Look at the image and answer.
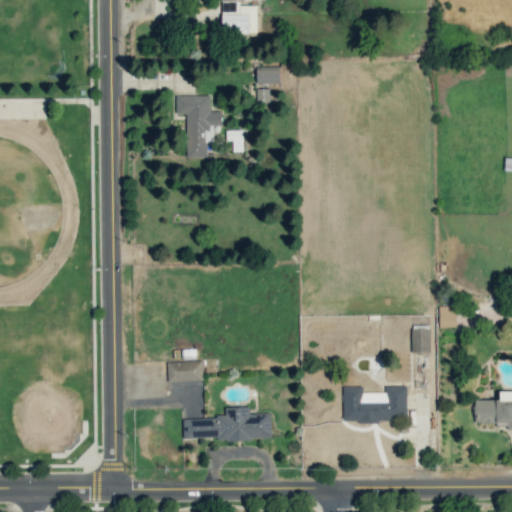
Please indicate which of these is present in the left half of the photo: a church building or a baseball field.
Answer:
baseball field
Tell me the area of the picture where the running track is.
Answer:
left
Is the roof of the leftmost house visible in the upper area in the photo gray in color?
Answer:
Yes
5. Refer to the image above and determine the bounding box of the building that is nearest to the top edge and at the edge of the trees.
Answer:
[221,0,262,34]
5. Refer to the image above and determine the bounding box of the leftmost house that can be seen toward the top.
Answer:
[176,96,222,158]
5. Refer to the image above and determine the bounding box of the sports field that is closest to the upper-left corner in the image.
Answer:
[0,138,62,288]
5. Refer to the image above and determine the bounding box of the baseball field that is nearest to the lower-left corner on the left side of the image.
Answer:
[12,380,89,458]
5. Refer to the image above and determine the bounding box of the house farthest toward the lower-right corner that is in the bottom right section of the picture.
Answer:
[476,392,512,427]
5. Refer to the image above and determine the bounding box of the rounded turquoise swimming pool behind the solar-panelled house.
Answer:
[224,386,250,404]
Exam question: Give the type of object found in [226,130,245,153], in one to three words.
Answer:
shed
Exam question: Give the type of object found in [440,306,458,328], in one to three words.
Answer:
shed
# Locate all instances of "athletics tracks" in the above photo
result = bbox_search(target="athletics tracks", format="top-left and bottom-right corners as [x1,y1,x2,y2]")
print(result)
[0,119,80,306]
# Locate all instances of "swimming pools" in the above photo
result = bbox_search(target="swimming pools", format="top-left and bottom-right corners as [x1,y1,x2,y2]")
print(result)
[224,386,250,404]
[500,361,512,388]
